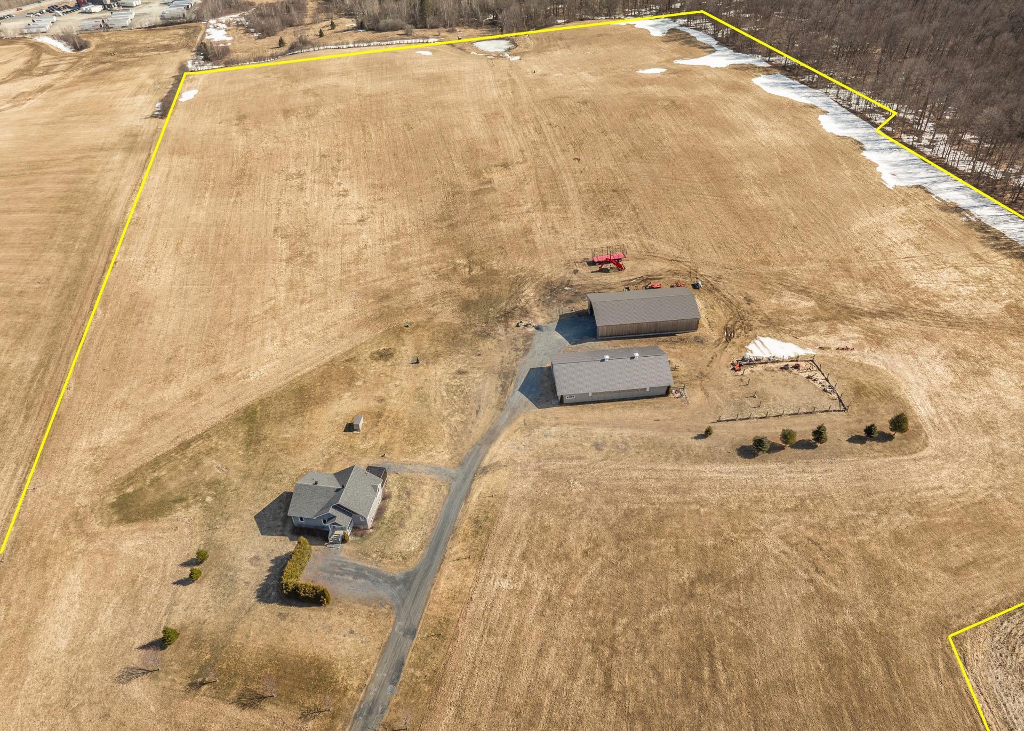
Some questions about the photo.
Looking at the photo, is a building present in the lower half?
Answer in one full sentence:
Yes, I can see a building in the lower half.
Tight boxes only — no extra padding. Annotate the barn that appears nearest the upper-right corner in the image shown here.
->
[587,288,702,339]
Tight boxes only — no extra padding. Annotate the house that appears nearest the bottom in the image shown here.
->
[287,466,388,553]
